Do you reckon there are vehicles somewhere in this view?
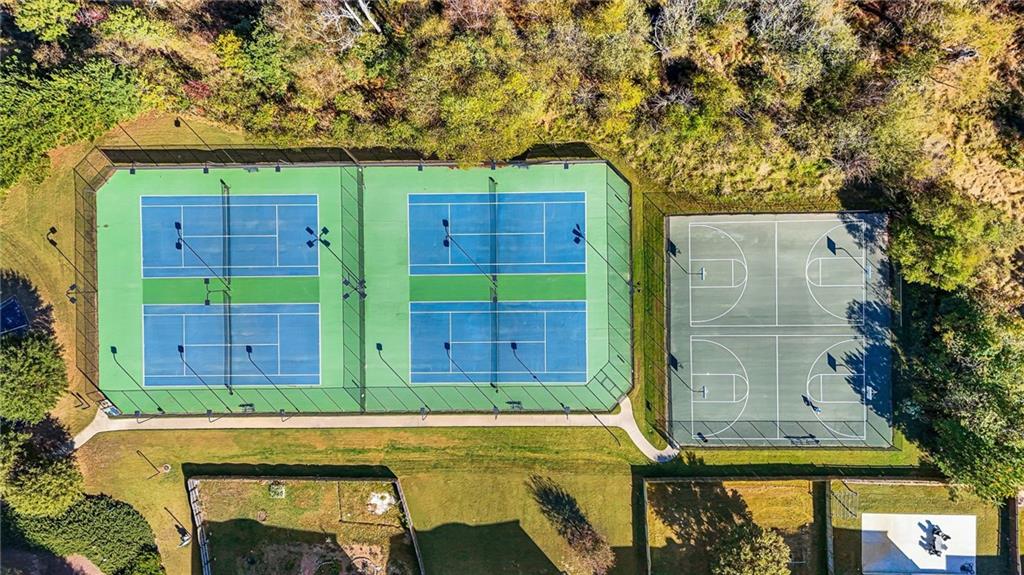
No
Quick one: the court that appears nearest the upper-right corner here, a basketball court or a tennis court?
basketball court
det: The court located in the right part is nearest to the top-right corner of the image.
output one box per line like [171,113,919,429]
[688,220,866,326]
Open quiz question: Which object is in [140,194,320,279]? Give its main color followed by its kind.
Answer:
blue tennis court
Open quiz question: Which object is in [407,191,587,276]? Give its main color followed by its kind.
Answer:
blue tennis court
